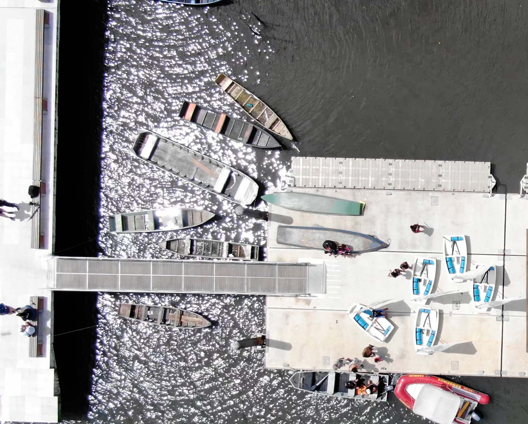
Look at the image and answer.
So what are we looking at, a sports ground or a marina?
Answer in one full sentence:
This image shows a marina.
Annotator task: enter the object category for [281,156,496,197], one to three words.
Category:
pier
